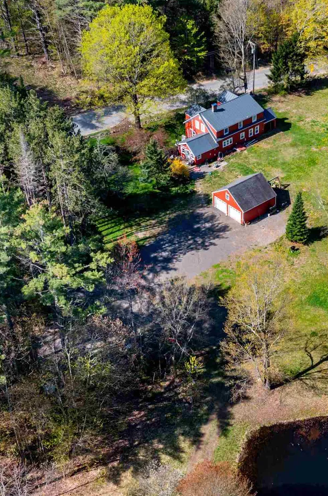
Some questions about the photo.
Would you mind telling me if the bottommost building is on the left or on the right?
right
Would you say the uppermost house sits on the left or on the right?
right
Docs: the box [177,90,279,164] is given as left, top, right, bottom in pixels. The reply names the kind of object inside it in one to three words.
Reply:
house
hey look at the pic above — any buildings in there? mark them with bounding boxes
[177,90,279,164]
[211,171,277,224]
